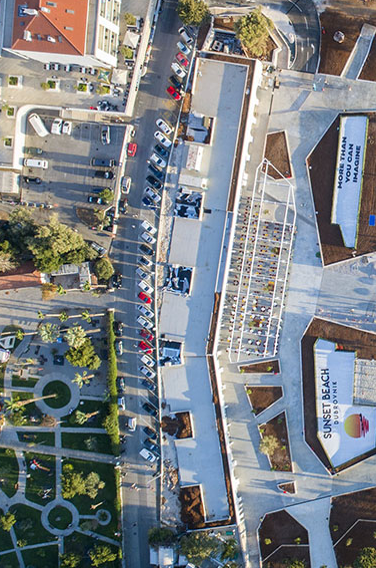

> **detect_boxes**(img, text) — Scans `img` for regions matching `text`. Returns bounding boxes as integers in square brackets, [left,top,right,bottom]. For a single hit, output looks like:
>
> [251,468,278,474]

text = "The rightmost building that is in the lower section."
[299,317,376,477]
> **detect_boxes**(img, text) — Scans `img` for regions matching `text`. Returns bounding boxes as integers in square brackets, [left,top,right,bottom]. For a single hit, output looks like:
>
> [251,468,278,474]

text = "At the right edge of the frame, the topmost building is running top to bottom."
[305,109,376,265]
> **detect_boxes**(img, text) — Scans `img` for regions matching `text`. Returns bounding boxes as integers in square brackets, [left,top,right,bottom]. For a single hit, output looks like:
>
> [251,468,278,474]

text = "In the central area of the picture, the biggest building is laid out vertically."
[160,55,263,532]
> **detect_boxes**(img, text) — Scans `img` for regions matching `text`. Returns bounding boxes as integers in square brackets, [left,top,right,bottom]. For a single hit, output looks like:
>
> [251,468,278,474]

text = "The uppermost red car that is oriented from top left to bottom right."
[175,52,191,67]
